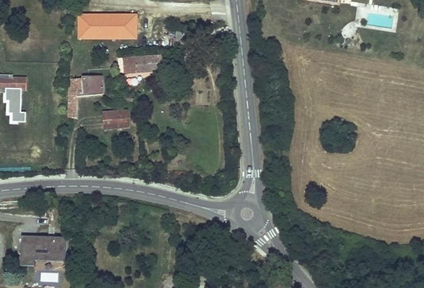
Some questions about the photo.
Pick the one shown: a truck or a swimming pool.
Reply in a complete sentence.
The one in the frame is a swimming pool.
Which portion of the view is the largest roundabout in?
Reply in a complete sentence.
Look in the bottom portion of the view to spot the largest roundabout.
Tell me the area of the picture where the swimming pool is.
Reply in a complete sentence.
The swimming pool is in the top right part of the image.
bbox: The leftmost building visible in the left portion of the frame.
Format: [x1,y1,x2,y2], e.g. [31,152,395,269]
[0,76,26,126]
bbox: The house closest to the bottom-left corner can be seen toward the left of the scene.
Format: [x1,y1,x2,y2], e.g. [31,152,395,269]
[20,235,66,266]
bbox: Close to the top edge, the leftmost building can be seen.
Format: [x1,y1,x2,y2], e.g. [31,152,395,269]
[77,13,138,40]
